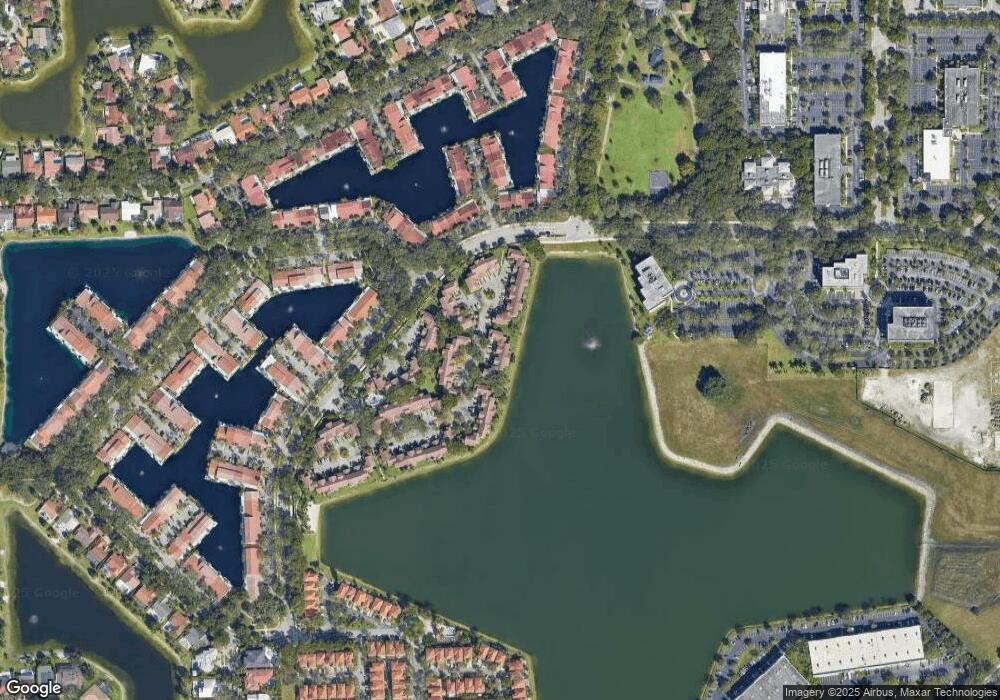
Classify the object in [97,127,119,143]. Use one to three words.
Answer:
house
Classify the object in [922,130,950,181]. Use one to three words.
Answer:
building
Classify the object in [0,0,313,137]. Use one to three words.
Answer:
pond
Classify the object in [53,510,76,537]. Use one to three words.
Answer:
house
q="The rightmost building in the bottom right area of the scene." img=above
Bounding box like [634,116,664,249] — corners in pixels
[808,625,924,674]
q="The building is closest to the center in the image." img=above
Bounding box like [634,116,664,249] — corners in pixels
[487,329,512,373]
